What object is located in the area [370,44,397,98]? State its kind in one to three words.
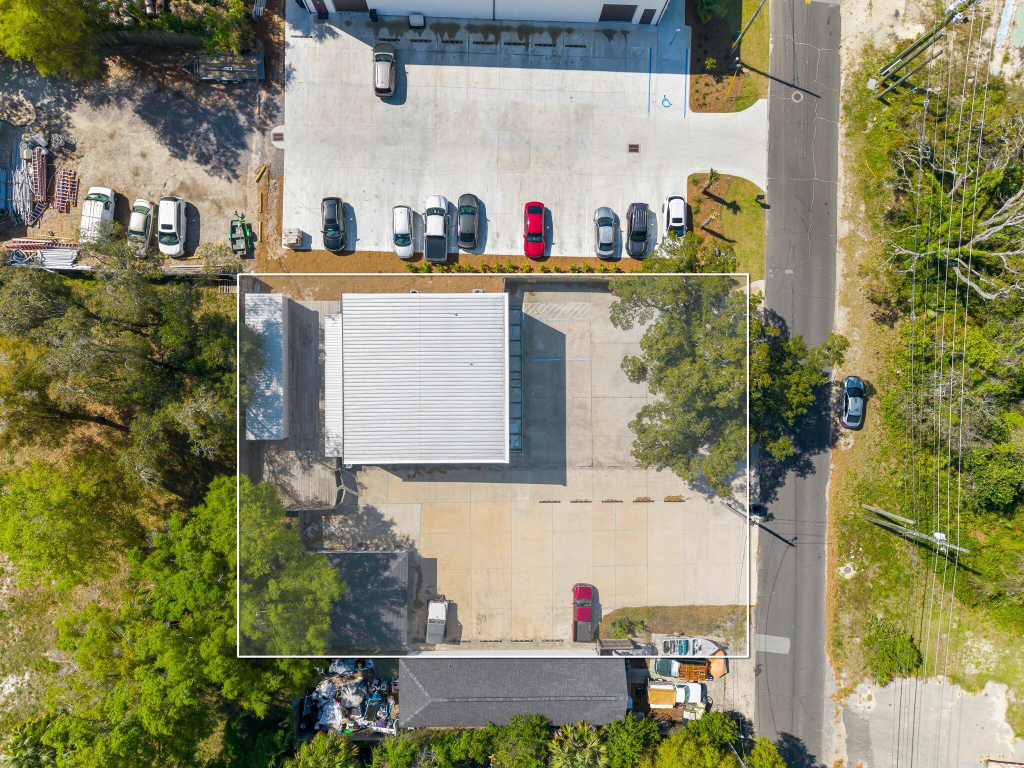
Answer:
car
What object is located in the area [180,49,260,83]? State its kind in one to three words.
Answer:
trailer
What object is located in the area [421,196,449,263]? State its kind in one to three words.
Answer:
truck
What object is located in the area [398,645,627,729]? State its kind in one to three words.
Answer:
house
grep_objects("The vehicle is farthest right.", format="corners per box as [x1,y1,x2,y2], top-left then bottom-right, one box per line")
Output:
[838,375,868,430]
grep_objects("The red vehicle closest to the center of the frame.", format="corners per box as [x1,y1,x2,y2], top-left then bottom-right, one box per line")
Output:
[521,202,548,258]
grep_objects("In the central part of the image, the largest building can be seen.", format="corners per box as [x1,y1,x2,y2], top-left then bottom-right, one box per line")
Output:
[324,292,510,465]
